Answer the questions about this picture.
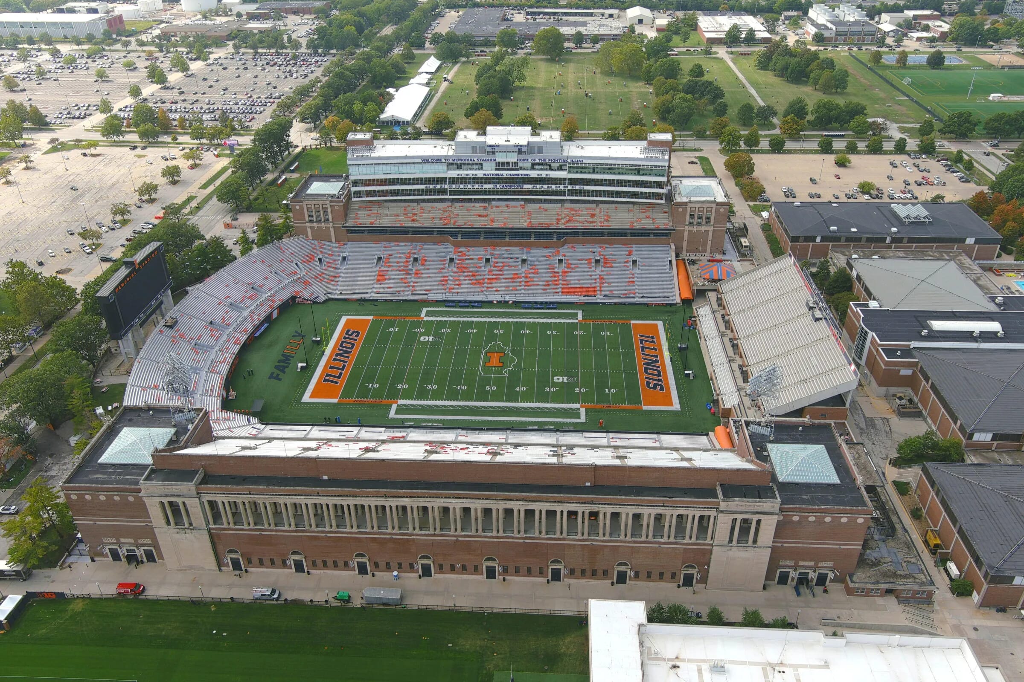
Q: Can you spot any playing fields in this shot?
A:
Yes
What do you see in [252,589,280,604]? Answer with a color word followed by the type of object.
gray vehicle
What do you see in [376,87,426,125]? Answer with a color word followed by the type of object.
white tent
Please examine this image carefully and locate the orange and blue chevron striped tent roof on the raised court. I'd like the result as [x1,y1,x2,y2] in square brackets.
[700,262,736,281]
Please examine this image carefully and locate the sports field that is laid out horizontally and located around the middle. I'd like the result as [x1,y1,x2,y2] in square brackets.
[224,300,722,431]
